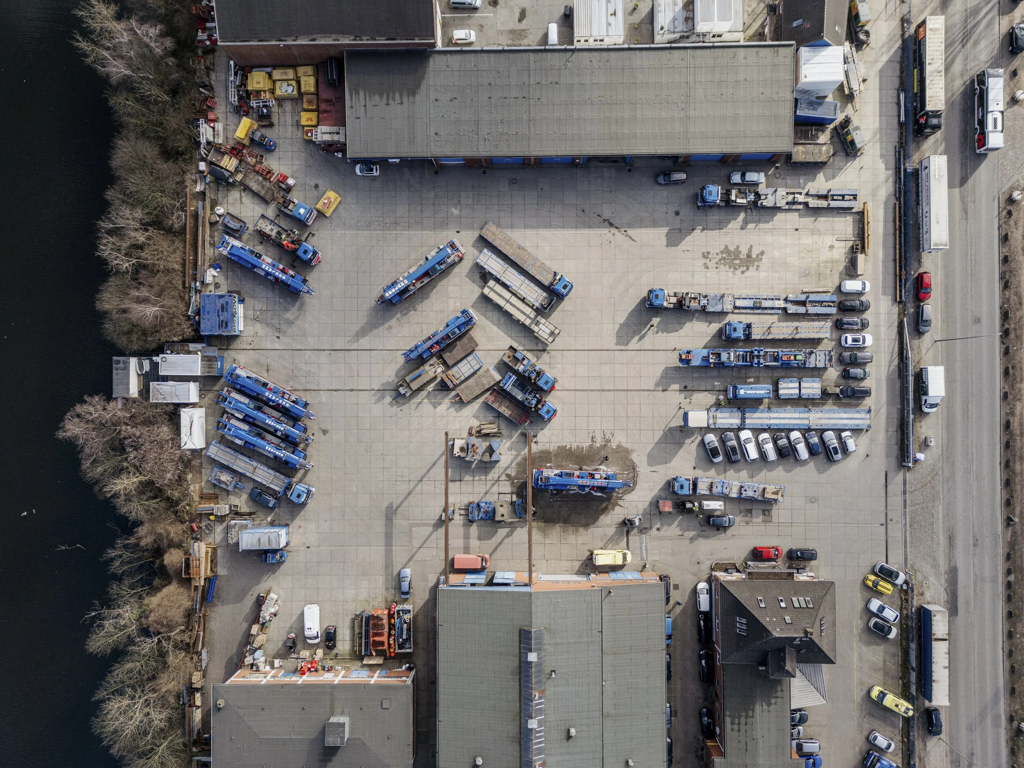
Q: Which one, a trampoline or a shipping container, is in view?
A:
shipping container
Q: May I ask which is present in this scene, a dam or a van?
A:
van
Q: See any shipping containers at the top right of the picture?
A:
Yes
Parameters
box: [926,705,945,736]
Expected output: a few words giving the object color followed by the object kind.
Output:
black car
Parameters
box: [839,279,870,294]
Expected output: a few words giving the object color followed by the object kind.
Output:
white vehicle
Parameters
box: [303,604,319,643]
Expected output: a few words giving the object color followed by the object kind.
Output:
white vehicle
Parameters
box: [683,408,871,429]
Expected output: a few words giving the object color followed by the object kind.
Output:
white trailer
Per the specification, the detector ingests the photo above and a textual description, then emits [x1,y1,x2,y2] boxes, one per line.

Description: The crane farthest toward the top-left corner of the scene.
[216,232,315,295]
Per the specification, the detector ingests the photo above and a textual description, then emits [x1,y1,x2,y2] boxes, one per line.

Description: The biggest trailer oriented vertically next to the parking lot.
[918,604,950,705]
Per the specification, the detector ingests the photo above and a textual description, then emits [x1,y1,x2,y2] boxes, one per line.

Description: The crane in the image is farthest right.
[532,469,633,494]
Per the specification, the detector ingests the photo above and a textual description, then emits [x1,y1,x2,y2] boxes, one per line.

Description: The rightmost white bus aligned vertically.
[975,68,1004,153]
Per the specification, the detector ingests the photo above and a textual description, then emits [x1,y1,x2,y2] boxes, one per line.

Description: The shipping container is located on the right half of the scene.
[795,99,839,125]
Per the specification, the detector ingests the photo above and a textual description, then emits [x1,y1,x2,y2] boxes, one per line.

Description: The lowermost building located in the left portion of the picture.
[211,670,414,768]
